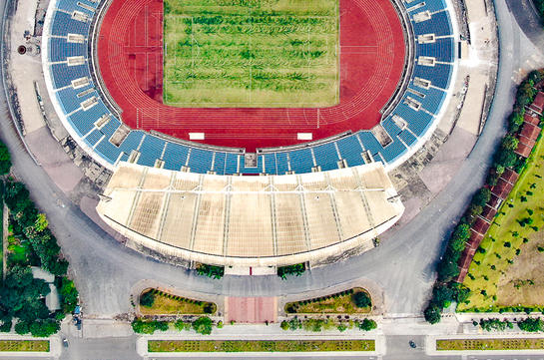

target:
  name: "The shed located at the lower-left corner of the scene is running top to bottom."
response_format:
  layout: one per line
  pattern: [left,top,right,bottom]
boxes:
[46,282,60,311]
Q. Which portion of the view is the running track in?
top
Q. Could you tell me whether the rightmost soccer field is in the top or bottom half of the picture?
top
